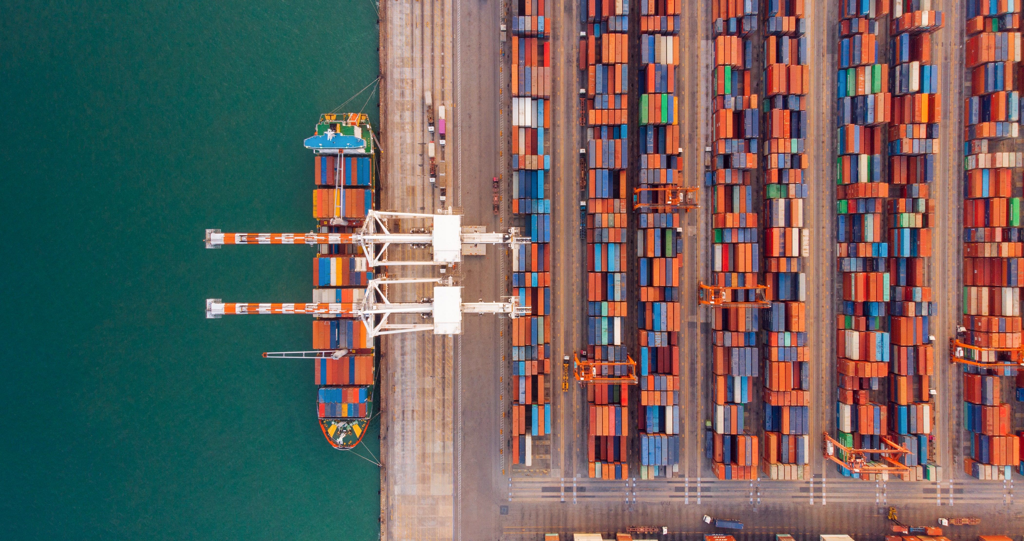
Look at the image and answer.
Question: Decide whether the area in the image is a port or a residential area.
port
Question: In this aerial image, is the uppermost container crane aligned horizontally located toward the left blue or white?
white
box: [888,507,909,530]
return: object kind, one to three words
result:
work vehicle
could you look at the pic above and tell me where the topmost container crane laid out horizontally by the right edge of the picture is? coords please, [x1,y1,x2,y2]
[950,337,1024,369]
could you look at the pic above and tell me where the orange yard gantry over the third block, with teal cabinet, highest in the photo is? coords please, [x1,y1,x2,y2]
[634,187,703,214]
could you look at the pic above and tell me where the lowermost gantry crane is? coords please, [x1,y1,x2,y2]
[822,432,906,474]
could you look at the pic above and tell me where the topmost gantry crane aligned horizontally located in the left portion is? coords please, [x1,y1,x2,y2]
[202,204,530,272]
